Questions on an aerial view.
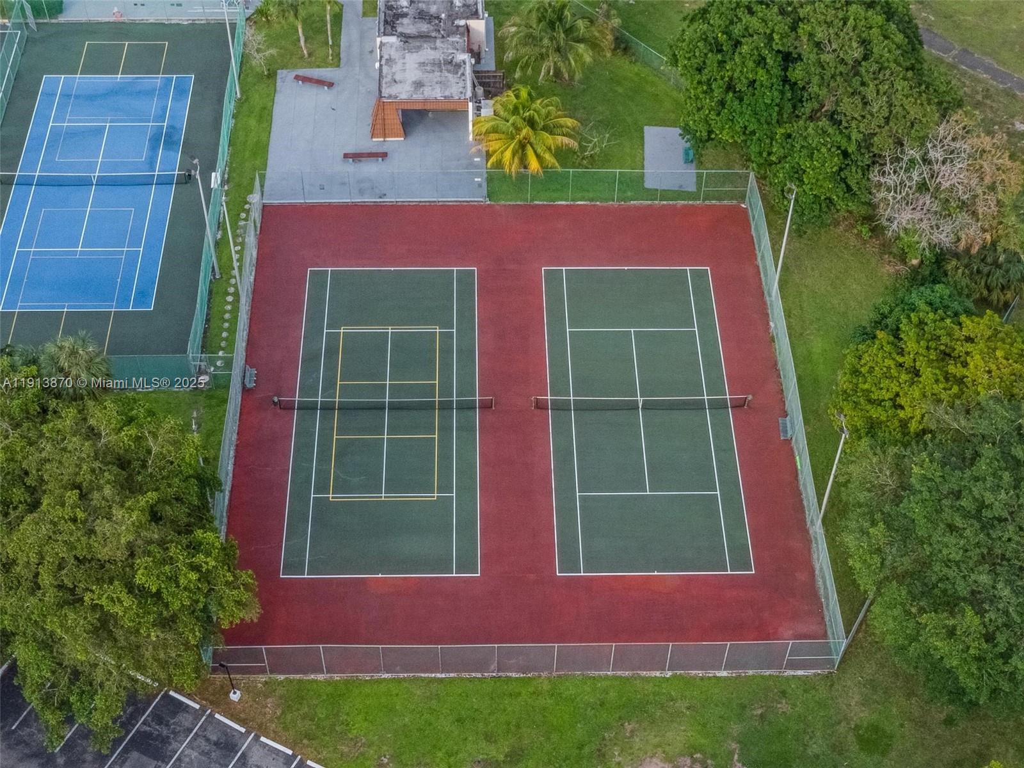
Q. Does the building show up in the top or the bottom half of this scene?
top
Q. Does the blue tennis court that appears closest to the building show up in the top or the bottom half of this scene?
top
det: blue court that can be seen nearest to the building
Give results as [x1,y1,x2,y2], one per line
[0,22,238,386]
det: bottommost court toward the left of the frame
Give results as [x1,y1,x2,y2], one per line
[280,268,480,577]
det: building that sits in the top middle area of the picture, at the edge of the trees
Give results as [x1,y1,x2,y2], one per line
[370,0,488,140]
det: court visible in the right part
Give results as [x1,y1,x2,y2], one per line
[542,267,755,574]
